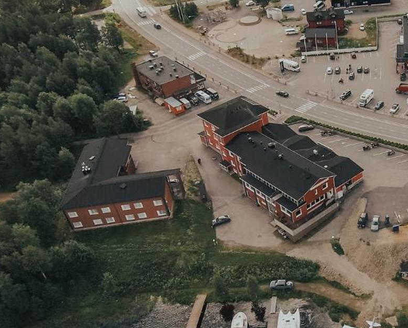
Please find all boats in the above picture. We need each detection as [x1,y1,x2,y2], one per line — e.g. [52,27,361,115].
[279,309,300,328]
[231,308,248,328]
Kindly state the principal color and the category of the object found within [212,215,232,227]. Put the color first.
gray vehicle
